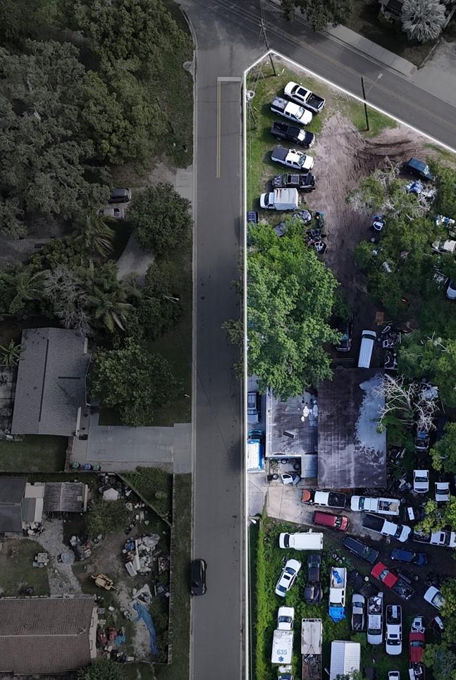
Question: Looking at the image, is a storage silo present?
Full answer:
No, I can't see a single storage silo in this photo.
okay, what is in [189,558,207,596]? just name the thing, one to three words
car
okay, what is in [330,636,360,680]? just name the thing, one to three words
shed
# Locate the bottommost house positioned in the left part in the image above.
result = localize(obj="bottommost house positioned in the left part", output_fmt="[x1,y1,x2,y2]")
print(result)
[0,595,100,677]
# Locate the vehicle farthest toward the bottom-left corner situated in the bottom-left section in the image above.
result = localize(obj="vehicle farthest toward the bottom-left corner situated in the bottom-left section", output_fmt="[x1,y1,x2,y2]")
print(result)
[93,572,118,589]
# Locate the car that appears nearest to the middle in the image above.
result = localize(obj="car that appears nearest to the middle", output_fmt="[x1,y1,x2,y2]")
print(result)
[245,392,262,425]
